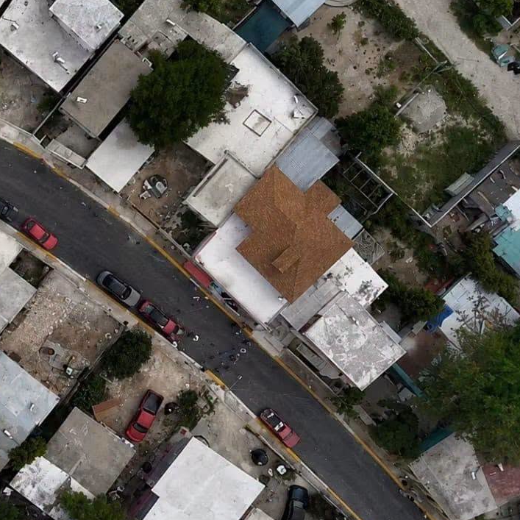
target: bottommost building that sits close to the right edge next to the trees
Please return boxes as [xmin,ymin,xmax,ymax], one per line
[396,426,520,520]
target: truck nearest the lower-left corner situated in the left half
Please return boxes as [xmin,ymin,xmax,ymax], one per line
[127,388,163,443]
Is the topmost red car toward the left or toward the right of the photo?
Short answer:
left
